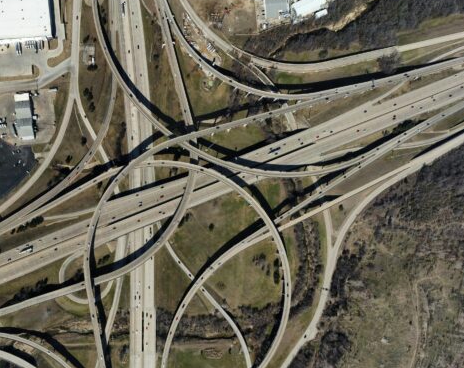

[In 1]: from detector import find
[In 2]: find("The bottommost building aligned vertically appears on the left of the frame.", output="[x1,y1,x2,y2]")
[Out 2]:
[15,92,35,141]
